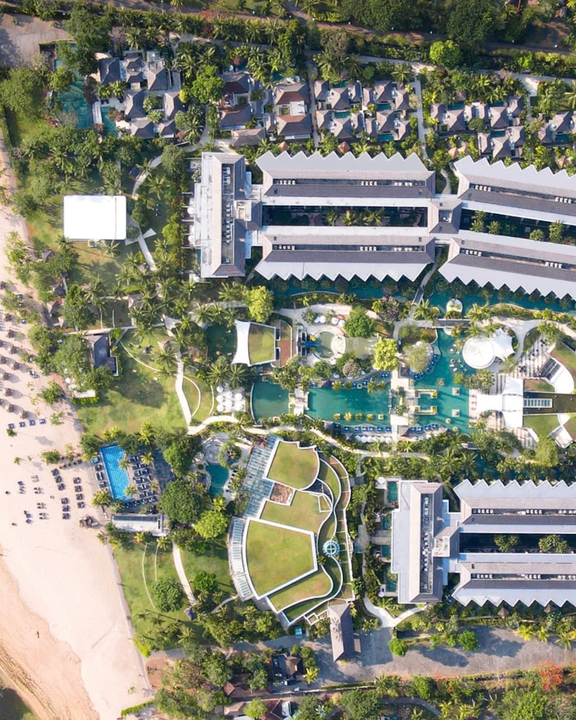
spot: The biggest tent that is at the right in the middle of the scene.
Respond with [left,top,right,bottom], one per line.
[473,377,523,427]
